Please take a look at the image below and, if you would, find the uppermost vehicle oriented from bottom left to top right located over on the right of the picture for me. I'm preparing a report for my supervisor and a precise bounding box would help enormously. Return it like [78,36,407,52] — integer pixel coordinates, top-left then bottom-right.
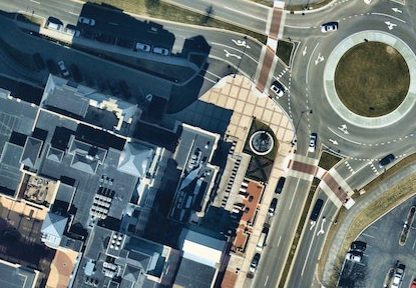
[378,154,395,168]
